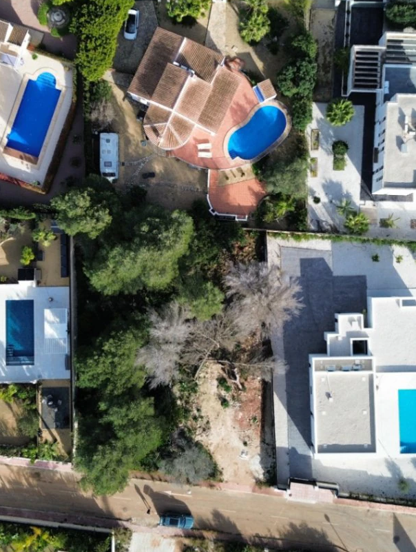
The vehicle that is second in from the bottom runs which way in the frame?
from top to bottom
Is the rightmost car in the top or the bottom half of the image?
bottom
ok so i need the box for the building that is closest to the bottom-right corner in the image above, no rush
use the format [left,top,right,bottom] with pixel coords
[307,296,416,454]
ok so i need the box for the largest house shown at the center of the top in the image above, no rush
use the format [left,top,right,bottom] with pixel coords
[128,27,241,149]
